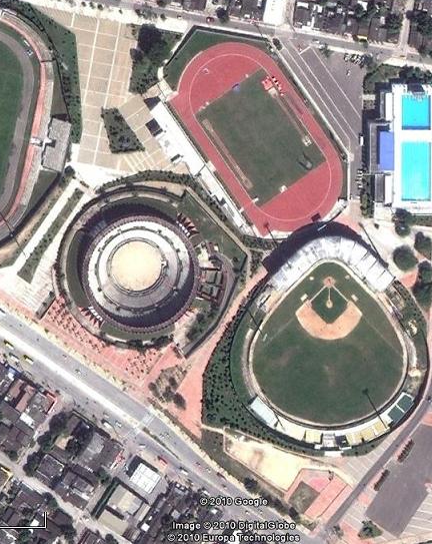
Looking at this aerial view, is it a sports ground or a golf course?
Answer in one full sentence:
The area seen from above is a sports ground.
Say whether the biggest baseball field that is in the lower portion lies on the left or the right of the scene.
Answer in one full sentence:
The biggest baseball field that is in the lower portion is on the right side of the image.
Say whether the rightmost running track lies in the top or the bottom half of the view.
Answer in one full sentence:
The rightmost running track sits in the top half of the picture.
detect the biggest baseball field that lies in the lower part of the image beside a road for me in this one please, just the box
[252,263,404,425]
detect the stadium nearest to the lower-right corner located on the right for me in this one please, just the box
[240,225,418,449]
